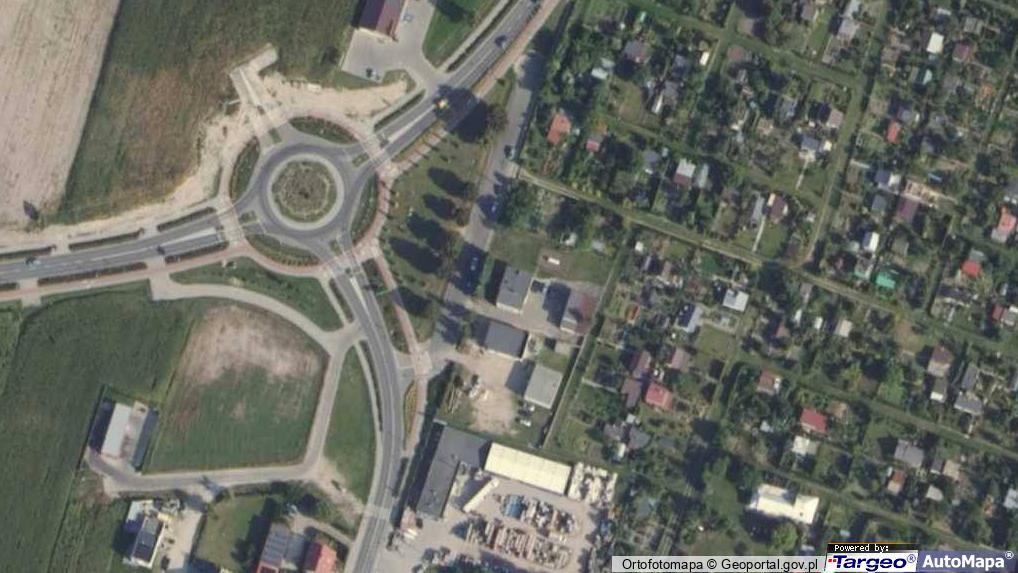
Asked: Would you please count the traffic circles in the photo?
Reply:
1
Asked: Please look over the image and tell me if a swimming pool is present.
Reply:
No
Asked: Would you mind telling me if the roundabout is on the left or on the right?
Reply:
left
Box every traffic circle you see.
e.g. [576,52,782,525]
[250,136,363,246]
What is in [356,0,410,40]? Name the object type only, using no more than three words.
building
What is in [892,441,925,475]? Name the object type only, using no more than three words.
shed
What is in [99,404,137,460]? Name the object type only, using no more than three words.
building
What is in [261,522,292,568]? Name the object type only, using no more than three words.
house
